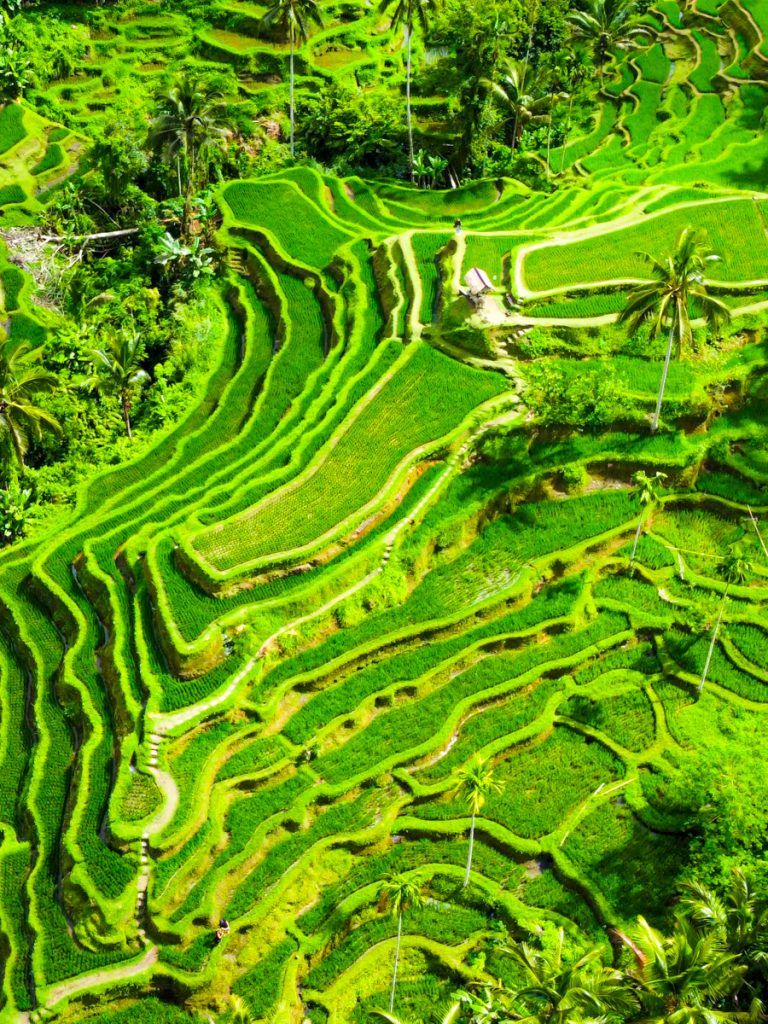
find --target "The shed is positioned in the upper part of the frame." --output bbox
[462,268,498,308]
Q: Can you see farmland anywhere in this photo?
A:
Yes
